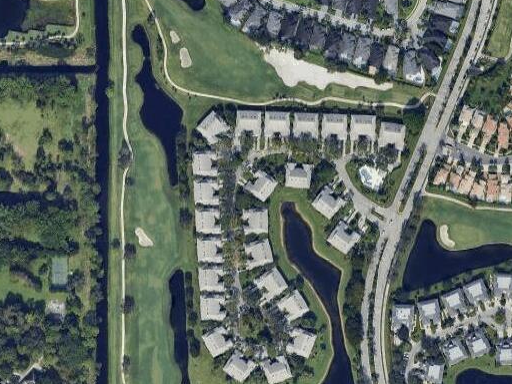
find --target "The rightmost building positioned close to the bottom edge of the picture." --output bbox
[496,340,512,365]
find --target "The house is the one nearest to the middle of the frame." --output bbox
[244,169,277,203]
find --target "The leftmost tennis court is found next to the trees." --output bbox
[51,256,66,285]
